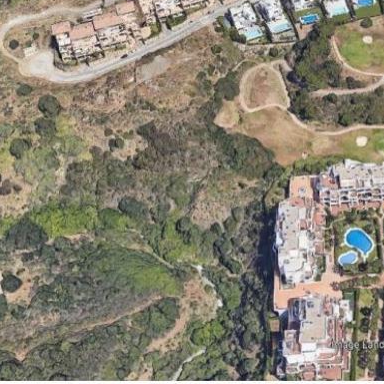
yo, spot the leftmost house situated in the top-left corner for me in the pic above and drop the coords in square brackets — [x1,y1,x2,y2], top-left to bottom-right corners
[51,21,79,62]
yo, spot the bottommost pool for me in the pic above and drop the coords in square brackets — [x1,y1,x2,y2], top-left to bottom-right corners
[338,249,359,266]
